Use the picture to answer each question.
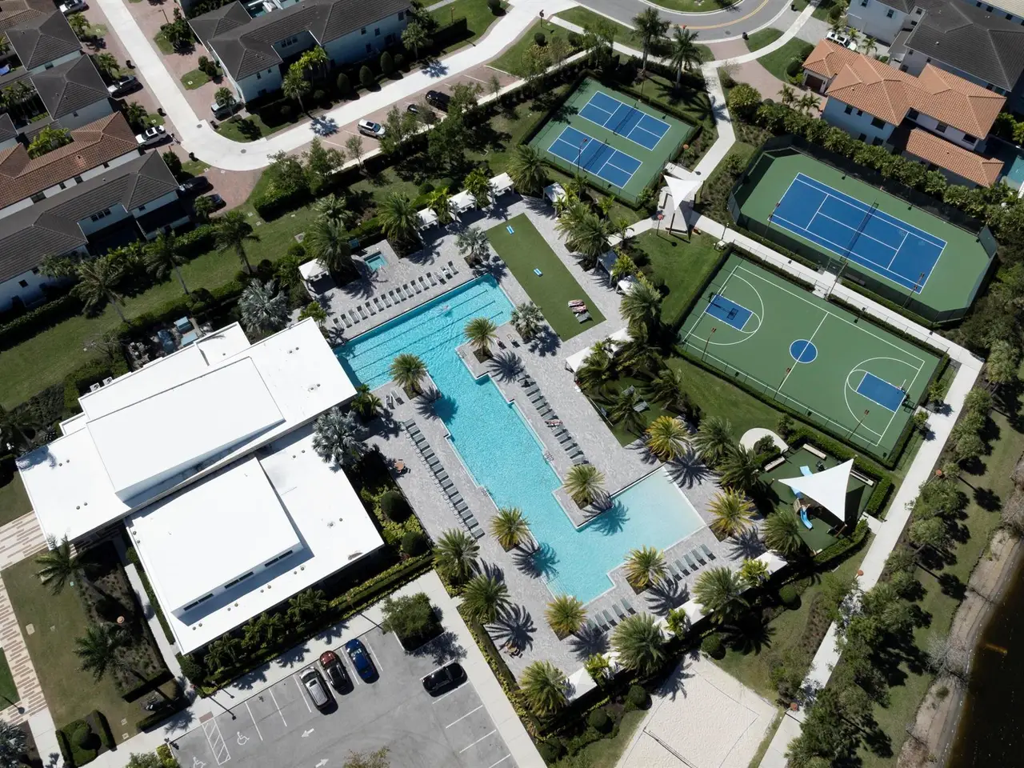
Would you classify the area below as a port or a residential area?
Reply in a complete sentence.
It's a residential area.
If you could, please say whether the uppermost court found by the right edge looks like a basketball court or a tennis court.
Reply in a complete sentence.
From above, the uppermost court found by the right edge can be identified as a tennis court.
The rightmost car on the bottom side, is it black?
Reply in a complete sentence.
Yes, the rightmost car on the bottom side is black.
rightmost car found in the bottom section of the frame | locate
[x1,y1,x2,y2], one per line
[422,662,466,694]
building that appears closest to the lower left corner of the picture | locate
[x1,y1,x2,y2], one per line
[15,318,386,656]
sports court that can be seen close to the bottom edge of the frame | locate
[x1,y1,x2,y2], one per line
[614,649,782,768]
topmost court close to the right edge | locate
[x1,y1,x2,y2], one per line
[735,149,990,310]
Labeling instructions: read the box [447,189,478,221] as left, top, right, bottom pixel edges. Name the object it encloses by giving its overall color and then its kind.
white tent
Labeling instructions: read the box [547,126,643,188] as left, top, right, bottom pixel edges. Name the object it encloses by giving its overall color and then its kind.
blue sports court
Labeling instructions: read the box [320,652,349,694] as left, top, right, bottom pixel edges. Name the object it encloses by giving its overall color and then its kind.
black car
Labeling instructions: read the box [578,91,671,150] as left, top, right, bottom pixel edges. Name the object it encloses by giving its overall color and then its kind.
blue sports court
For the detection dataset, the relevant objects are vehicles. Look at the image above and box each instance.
[406,99,434,121]
[422,662,466,694]
[345,640,376,682]
[177,173,210,196]
[108,76,139,97]
[425,87,455,109]
[299,667,330,710]
[135,124,167,146]
[320,652,349,694]
[57,0,87,13]
[355,116,384,136]
[195,192,228,215]
[827,28,857,50]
